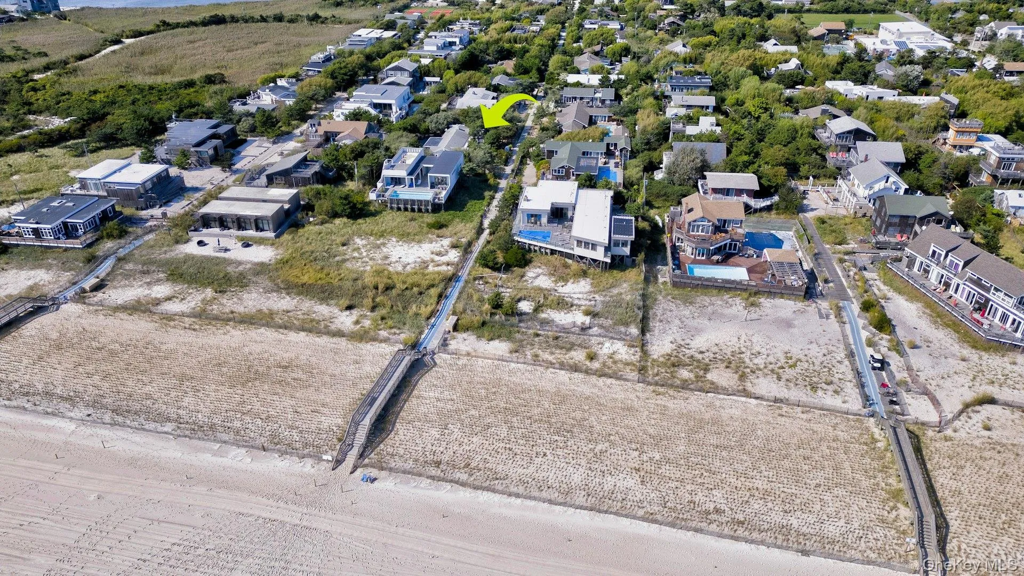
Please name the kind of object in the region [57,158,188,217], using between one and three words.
house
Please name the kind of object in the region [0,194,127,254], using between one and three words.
house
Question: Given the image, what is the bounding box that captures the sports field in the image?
[811,13,905,27]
